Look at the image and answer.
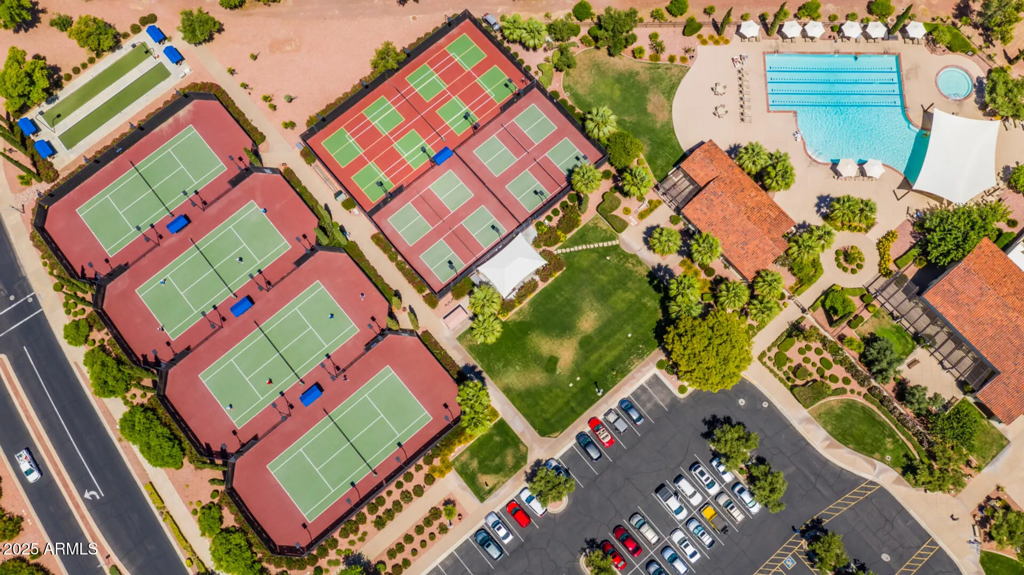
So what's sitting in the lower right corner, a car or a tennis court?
car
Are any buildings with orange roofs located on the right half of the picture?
Yes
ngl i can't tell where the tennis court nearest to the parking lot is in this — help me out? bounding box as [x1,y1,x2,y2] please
[233,335,461,554]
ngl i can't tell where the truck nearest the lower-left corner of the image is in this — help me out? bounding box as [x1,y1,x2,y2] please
[13,448,41,483]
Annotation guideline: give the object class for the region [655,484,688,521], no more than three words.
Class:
vehicle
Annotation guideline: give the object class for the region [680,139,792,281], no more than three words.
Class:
building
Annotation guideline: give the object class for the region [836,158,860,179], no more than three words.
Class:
umbrella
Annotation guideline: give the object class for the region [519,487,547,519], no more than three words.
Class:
car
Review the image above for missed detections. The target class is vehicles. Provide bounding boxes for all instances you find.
[646,560,668,575]
[655,484,688,521]
[661,546,690,575]
[613,525,643,560]
[714,492,745,524]
[699,503,728,534]
[708,458,734,485]
[674,475,702,507]
[687,518,715,549]
[482,10,499,34]
[485,511,513,544]
[475,528,503,562]
[629,513,660,547]
[506,500,530,530]
[13,448,41,483]
[519,487,547,519]
[600,539,628,571]
[691,462,719,496]
[731,483,759,514]
[670,528,701,564]
[576,432,600,463]
[603,408,628,436]
[587,416,615,449]
[618,397,645,427]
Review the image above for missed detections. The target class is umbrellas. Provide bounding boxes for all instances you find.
[865,21,888,40]
[780,20,803,40]
[862,159,885,181]
[803,20,825,41]
[836,158,860,179]
[904,20,926,41]
[738,20,761,40]
[839,20,863,40]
